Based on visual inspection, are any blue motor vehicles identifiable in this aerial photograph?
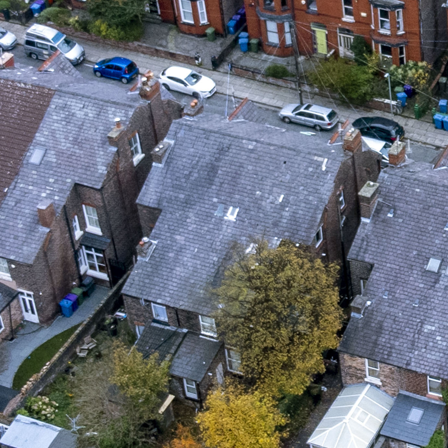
Yes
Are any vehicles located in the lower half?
No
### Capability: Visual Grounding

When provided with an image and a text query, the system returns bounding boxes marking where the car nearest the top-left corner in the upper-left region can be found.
[0,23,21,50]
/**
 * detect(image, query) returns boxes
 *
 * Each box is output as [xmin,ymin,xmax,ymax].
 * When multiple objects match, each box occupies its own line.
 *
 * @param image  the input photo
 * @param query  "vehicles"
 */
[275,100,339,133]
[92,55,141,83]
[0,23,21,50]
[154,65,216,99]
[355,118,415,149]
[26,22,94,69]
